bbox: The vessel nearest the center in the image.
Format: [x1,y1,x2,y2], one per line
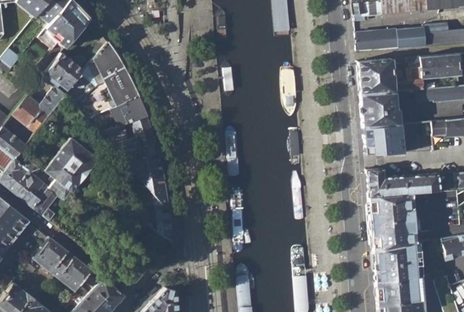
[226,122,241,176]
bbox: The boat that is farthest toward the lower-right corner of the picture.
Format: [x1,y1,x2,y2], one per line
[292,242,310,312]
